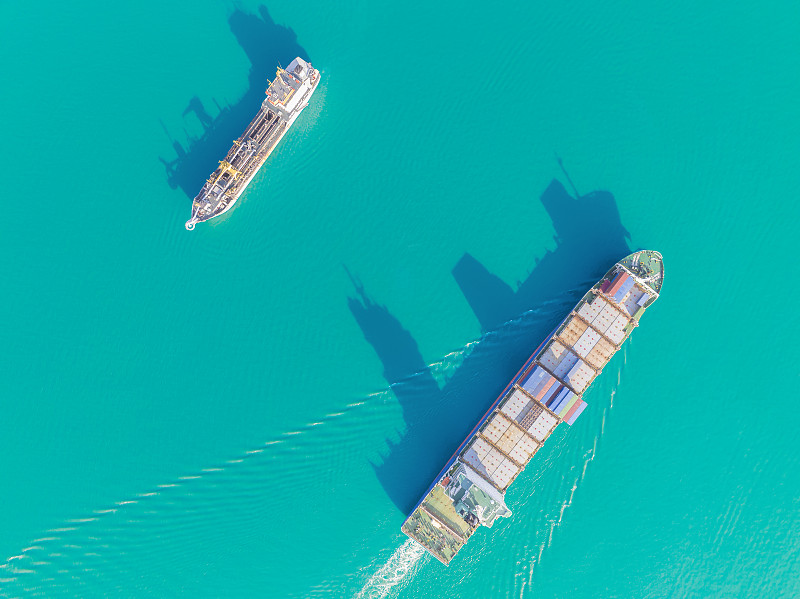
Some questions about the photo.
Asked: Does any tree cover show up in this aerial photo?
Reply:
No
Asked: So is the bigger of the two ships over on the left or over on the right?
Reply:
right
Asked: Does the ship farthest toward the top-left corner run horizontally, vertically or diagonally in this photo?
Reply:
diagonally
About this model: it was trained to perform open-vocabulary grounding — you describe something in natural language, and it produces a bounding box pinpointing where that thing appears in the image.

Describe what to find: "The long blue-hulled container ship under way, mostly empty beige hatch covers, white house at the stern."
[401,250,665,565]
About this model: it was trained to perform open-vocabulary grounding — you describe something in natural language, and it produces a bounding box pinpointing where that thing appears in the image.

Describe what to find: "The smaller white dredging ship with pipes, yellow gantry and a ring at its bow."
[187,55,322,229]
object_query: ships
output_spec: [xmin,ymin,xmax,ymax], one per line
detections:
[401,250,665,565]
[187,55,322,229]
